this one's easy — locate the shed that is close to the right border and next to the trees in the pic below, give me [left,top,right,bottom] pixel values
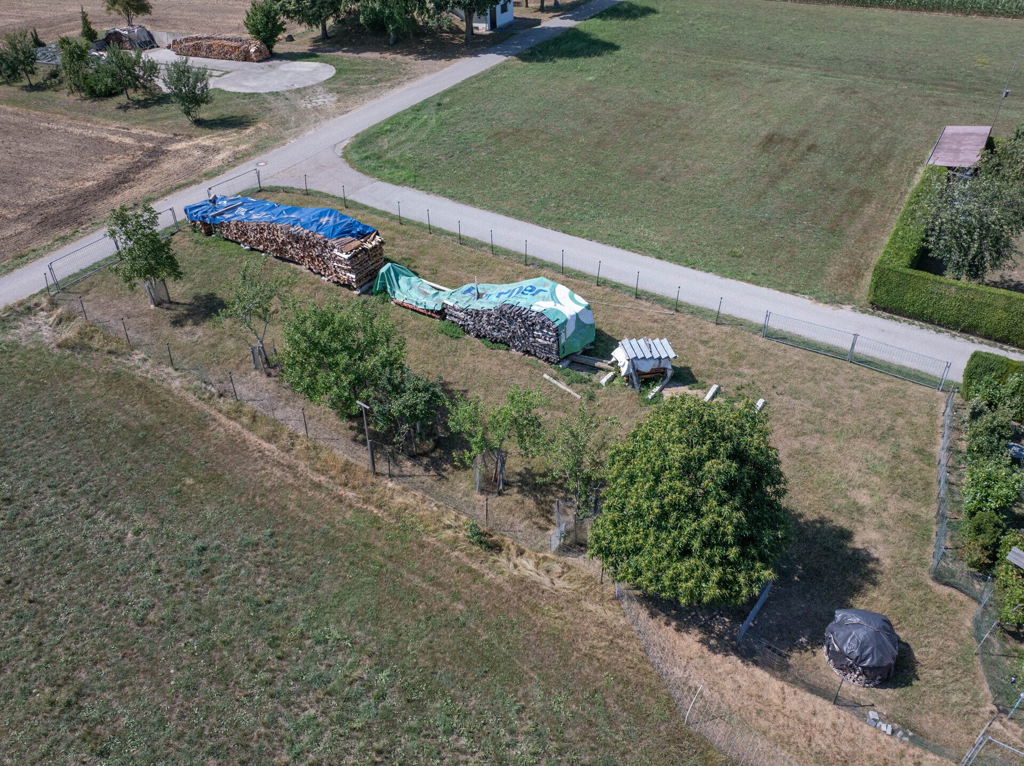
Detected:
[918,126,991,192]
